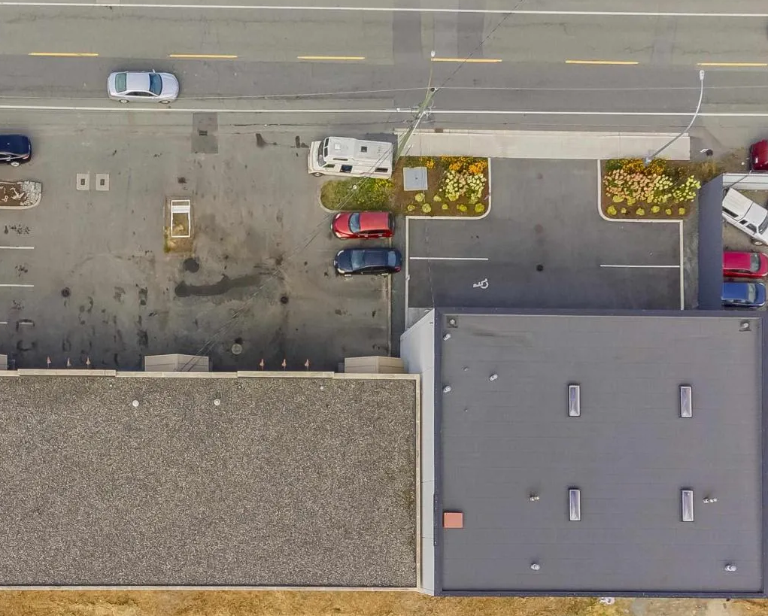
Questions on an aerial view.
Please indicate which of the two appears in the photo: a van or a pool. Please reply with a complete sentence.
I can see a van in this picture.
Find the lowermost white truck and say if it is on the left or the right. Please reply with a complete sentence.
It is on the right.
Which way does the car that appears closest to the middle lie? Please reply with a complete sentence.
I'd say the car that appears closest to the middle is aligned from side to side in the picture.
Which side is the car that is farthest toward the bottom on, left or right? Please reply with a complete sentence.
It is on the right.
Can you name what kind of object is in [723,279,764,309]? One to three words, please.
car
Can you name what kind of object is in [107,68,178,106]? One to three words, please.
car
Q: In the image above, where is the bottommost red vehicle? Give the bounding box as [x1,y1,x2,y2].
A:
[723,247,767,280]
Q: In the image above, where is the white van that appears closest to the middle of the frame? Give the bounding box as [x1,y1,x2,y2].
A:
[307,139,393,182]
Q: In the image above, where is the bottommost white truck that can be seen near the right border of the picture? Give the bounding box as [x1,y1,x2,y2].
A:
[723,183,768,246]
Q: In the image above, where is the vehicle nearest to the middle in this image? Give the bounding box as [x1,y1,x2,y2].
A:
[333,245,401,277]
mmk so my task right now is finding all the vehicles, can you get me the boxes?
[0,135,32,168]
[752,138,768,170]
[723,279,764,309]
[723,183,768,246]
[107,68,178,106]
[723,247,767,280]
[330,208,395,241]
[307,139,393,182]
[333,245,401,277]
